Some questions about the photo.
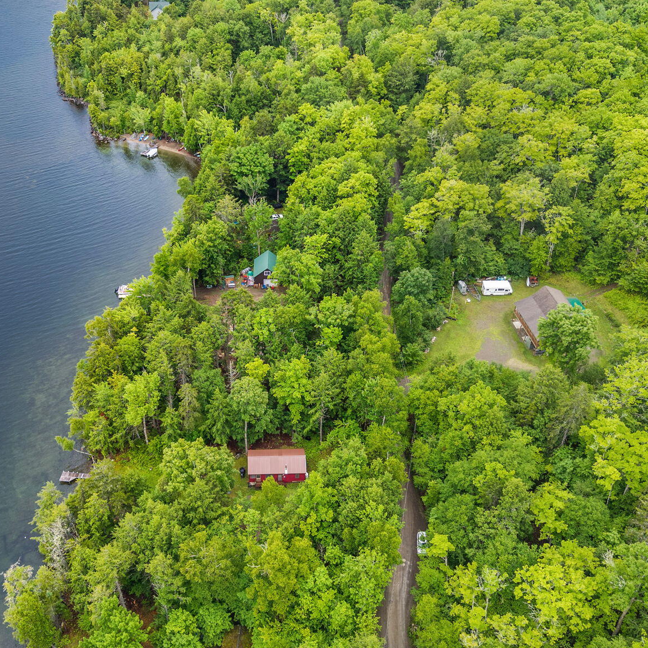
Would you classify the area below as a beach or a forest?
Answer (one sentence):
The area seen from above is a forest.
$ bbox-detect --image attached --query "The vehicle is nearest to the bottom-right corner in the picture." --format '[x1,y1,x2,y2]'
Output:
[416,527,428,553]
